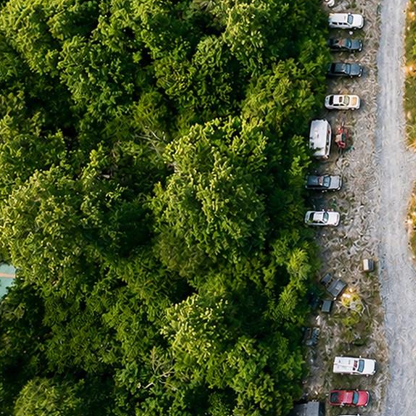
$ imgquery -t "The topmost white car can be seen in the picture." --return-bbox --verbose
[328,12,365,29]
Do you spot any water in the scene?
No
